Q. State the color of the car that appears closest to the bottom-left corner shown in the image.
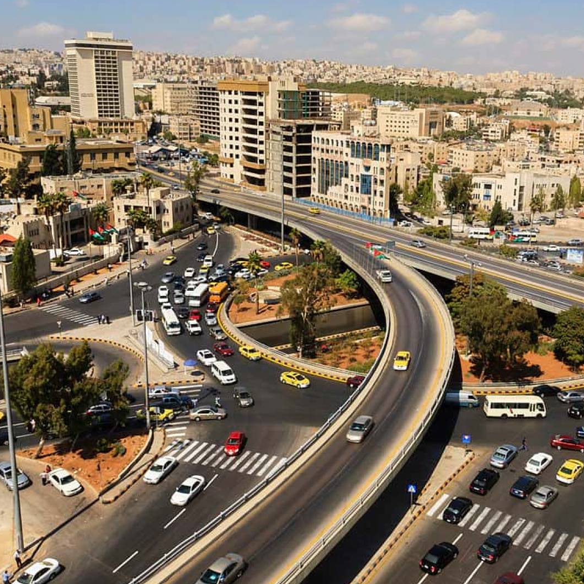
white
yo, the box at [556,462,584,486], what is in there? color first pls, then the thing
yellow car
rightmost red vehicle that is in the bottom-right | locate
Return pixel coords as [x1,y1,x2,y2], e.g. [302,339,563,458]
[549,435,584,452]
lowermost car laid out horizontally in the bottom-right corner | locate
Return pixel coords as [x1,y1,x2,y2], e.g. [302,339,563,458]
[490,566,529,584]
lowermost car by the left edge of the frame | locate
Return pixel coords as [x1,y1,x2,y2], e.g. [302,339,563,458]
[10,557,63,584]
